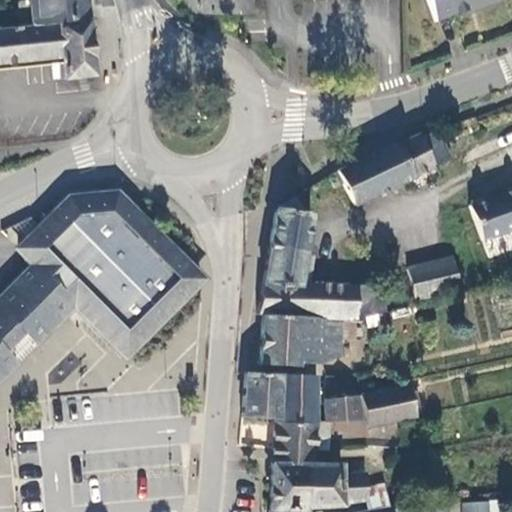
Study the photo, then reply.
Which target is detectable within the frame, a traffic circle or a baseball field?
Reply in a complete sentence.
Of the two, only a traffic circle appears.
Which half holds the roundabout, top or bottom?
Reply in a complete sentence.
The roundabout is in the top half of the image.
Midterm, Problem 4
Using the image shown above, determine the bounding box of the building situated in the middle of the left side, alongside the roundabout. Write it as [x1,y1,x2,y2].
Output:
[0,190,207,382]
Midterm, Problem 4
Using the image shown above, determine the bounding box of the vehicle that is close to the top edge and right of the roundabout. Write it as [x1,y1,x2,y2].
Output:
[442,18,456,43]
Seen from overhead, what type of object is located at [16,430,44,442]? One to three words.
vehicle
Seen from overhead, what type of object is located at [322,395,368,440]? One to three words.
building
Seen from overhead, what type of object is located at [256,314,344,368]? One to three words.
house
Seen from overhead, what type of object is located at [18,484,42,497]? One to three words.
vehicle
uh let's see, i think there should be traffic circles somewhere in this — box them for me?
[130,34,252,182]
